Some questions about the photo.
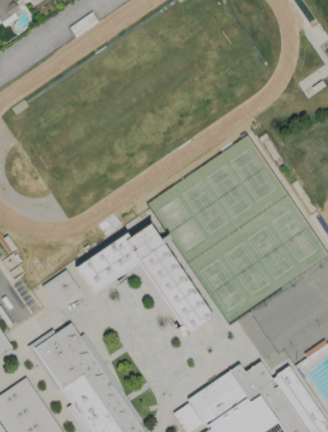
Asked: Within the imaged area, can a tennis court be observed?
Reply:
Yes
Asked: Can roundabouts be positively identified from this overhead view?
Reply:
No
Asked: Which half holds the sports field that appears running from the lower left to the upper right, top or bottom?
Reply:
top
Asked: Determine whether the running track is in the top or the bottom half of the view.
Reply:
top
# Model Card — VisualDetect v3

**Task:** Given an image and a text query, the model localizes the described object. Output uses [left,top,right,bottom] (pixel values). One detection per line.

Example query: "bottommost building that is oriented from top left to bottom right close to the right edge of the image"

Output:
[274,366,328,432]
